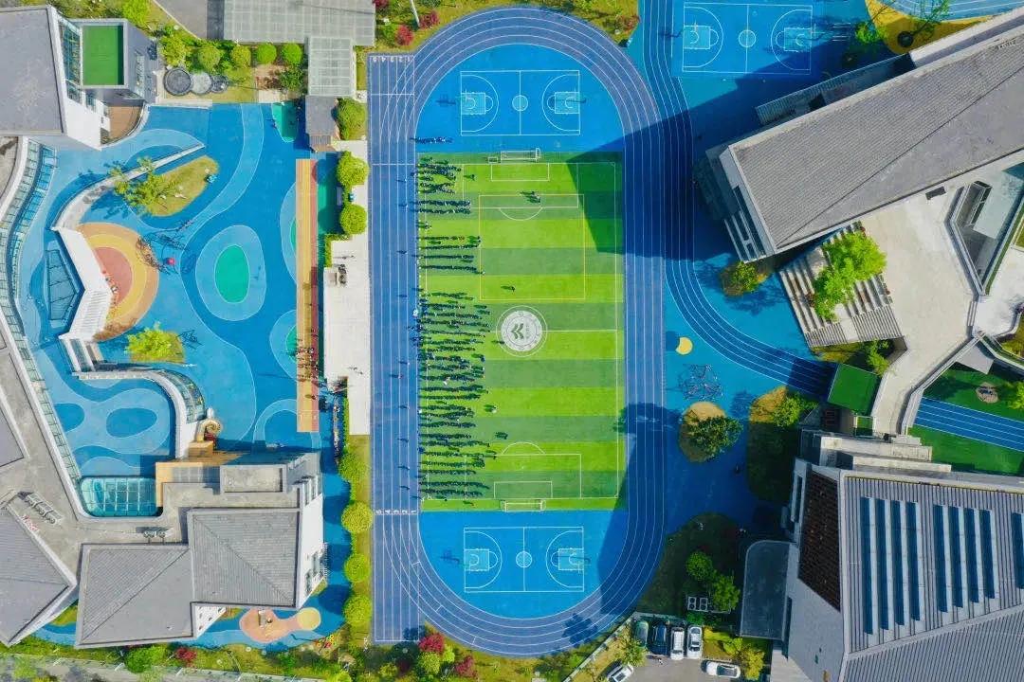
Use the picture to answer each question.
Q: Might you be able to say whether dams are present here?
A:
No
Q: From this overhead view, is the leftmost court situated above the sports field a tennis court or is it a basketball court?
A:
basketball court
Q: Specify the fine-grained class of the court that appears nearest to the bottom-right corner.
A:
basketball court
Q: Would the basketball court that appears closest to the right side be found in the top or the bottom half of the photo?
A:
top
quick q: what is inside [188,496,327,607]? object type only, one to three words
building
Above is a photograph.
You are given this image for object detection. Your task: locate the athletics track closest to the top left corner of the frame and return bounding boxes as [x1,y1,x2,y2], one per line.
[296,159,318,432]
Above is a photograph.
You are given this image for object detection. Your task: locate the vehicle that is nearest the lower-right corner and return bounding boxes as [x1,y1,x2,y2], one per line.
[705,660,740,678]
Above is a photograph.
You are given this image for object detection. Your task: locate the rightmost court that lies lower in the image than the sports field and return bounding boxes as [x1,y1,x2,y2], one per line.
[464,527,584,593]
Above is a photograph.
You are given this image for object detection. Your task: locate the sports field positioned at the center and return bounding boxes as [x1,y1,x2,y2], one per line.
[418,151,627,512]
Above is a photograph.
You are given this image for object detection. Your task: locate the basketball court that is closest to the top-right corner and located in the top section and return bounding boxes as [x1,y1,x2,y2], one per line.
[672,0,821,79]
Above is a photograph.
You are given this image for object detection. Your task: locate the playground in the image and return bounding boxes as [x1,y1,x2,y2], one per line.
[15,97,352,650]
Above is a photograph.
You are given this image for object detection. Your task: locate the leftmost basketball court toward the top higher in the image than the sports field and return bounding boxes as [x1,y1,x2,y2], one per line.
[461,70,580,135]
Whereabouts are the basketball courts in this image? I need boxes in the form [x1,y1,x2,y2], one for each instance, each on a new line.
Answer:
[464,527,584,593]
[672,0,821,79]
[461,70,580,135]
